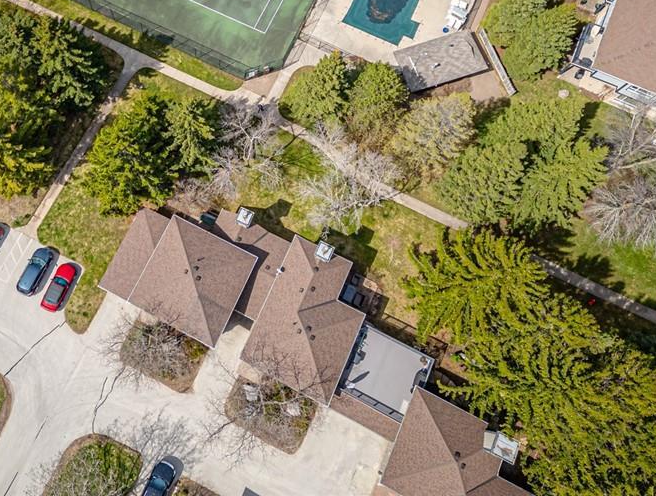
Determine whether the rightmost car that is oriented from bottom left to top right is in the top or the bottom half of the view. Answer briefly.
bottom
